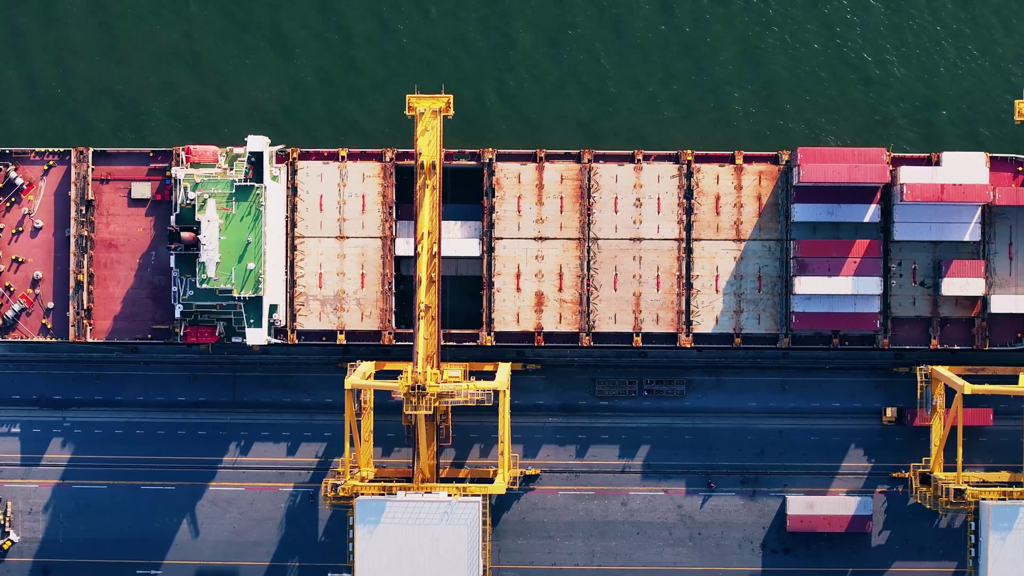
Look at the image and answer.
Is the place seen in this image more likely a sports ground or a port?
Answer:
port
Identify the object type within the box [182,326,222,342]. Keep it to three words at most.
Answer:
boat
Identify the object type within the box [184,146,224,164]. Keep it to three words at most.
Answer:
boat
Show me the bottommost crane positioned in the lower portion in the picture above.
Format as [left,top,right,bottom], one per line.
[891,366,1024,576]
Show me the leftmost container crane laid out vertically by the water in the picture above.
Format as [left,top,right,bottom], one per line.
[322,84,541,576]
